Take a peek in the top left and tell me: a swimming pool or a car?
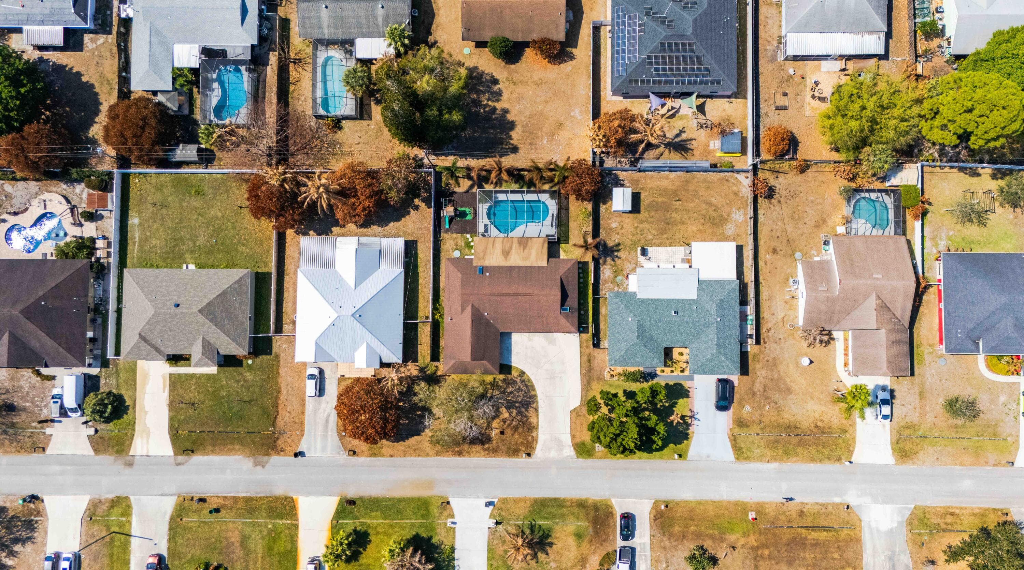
swimming pool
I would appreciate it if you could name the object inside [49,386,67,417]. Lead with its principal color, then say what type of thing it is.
white car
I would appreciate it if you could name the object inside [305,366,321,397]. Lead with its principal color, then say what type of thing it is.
white car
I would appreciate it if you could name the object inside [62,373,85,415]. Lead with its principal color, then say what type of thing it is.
white vehicle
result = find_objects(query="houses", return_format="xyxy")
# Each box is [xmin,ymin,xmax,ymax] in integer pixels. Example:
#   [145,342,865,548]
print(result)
[295,236,406,369]
[780,0,888,60]
[297,0,413,59]
[937,252,1024,355]
[121,268,254,368]
[111,0,262,92]
[0,259,97,369]
[443,237,578,375]
[461,0,566,45]
[607,242,741,376]
[795,235,916,377]
[610,0,738,94]
[0,0,99,50]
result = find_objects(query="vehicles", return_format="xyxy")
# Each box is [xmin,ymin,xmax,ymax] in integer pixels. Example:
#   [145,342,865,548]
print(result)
[64,550,80,570]
[305,366,321,397]
[145,552,163,570]
[62,373,85,415]
[44,550,62,570]
[618,511,633,541]
[876,390,893,423]
[715,377,731,411]
[616,544,631,570]
[307,559,321,570]
[49,386,67,417]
